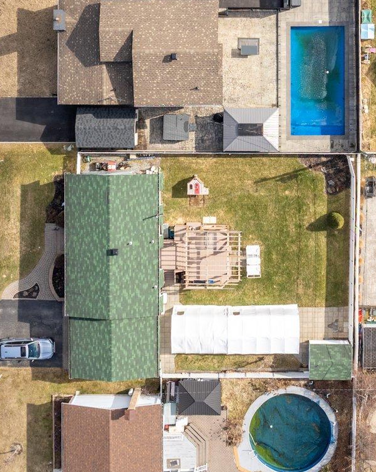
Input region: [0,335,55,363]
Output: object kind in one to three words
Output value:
car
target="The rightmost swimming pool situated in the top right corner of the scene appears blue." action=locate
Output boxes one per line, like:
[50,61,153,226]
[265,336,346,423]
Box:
[284,19,351,141]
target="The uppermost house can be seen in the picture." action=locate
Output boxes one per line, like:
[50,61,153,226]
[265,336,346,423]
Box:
[53,0,222,107]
